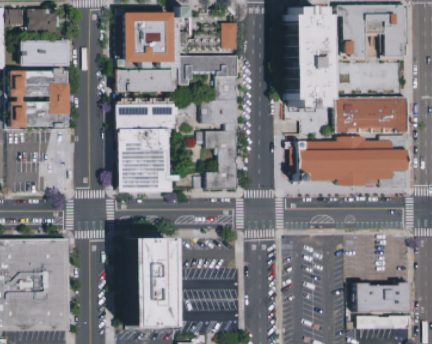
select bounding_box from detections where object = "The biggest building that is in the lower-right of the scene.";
[352,282,412,311]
